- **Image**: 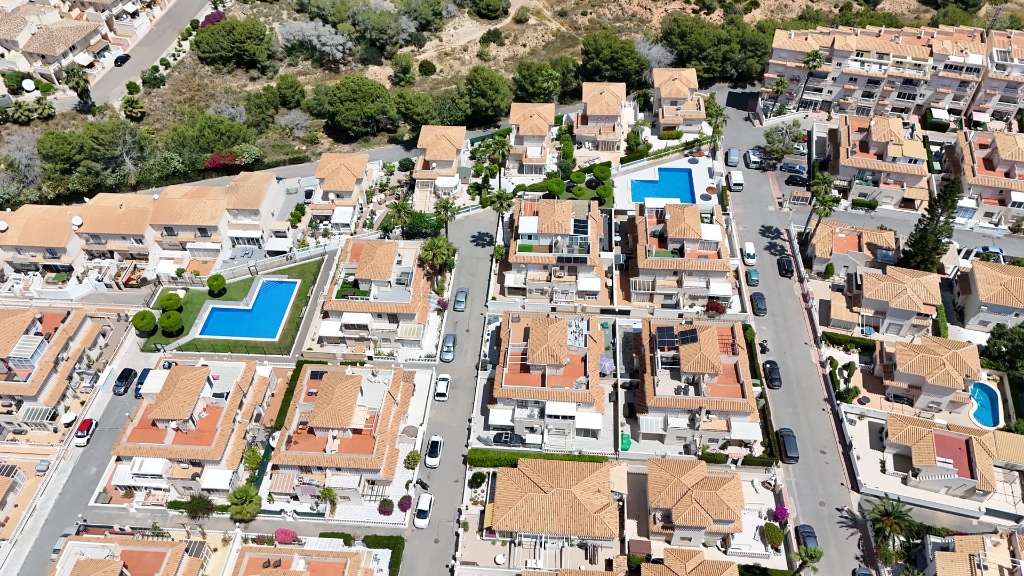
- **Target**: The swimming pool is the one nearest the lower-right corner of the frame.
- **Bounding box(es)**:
[968,378,1011,432]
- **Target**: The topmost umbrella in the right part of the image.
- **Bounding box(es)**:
[690,150,708,165]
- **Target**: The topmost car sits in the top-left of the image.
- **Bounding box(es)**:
[110,54,134,68]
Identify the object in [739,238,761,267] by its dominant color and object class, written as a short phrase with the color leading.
white vehicle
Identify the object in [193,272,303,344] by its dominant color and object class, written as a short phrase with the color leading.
blue swimming pool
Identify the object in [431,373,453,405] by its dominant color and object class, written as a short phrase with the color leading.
white car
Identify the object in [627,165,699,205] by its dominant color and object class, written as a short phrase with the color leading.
blue swimming pool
